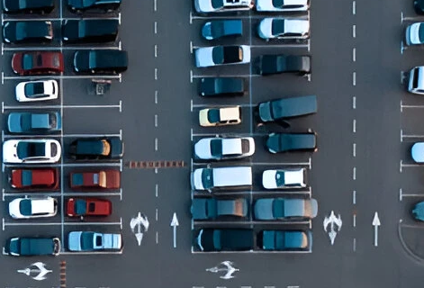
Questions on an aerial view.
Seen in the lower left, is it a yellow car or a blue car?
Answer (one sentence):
It is a blue car that can be seen in the lower left.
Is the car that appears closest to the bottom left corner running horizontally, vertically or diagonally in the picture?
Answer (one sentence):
The car that appears closest to the bottom left corner is laid out horizontally.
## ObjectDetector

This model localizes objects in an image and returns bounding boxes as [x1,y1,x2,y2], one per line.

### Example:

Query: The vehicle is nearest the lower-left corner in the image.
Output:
[6,234,60,260]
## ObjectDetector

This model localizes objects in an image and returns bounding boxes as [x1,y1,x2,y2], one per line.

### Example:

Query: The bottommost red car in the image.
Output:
[65,195,112,219]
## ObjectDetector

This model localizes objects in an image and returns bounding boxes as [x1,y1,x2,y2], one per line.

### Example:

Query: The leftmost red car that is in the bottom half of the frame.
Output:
[9,167,59,191]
